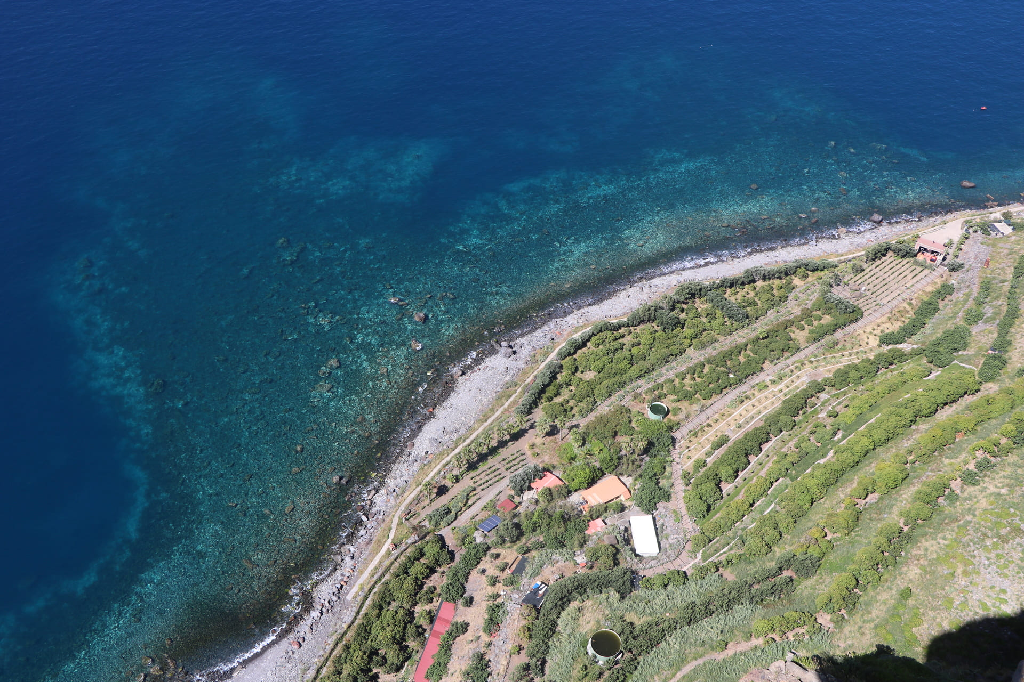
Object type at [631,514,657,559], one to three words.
building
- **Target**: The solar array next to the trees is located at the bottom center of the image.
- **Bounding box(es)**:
[478,513,501,533]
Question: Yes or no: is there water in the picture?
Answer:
Yes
